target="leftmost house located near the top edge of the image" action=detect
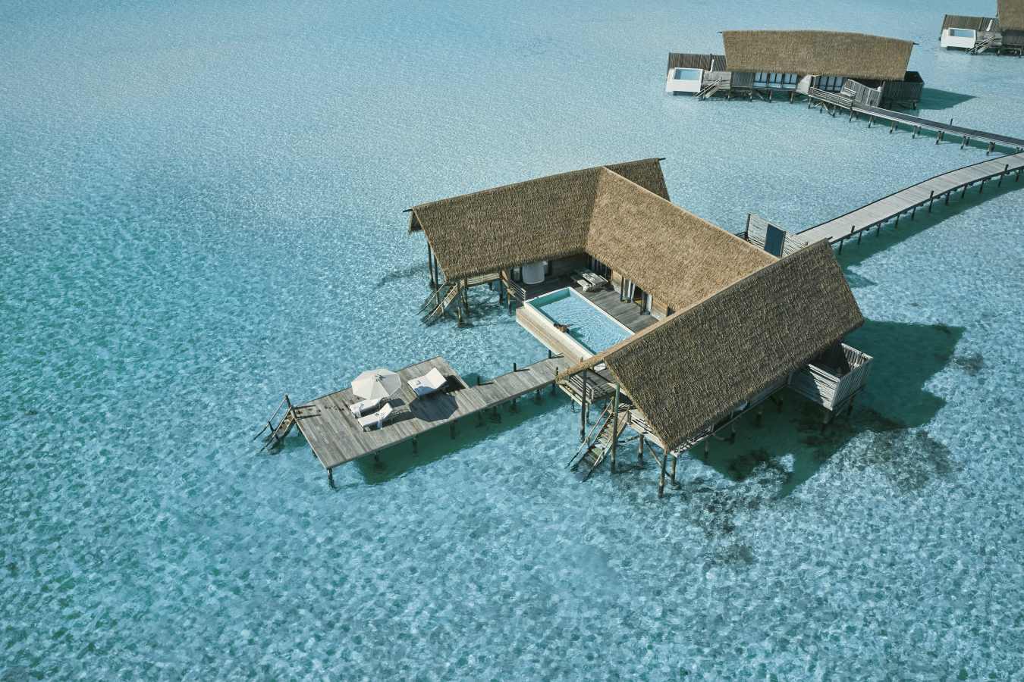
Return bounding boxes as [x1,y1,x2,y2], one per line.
[674,30,923,121]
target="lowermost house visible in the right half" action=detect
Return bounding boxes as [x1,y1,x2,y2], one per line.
[404,157,875,501]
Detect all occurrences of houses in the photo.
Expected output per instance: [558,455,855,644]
[404,157,875,501]
[944,0,1024,58]
[674,30,923,121]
